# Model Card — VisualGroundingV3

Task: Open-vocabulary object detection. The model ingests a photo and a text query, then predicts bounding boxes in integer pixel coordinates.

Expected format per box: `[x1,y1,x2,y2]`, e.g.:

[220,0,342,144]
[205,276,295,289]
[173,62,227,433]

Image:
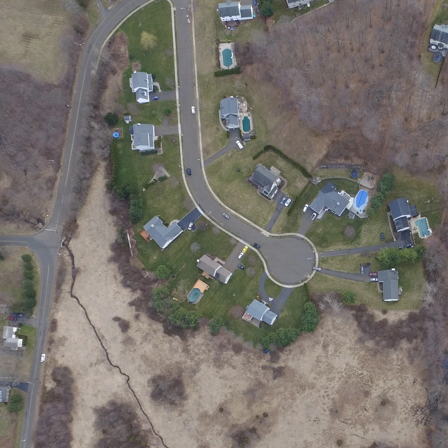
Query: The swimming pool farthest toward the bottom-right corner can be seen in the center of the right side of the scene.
[416,217,430,237]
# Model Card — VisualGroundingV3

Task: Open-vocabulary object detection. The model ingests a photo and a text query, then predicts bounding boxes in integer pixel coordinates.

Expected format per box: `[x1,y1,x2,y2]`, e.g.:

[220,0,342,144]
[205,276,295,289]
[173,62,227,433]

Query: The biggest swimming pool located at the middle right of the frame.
[353,189,369,214]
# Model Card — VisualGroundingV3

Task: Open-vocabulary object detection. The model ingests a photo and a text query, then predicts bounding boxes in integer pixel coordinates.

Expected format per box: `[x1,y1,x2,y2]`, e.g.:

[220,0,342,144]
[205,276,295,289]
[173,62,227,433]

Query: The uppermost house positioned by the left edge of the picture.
[2,327,21,350]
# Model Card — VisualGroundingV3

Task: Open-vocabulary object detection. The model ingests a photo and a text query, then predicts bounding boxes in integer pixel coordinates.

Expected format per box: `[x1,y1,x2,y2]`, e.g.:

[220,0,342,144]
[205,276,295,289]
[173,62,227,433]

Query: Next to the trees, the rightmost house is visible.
[429,24,448,57]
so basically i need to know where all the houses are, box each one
[219,95,240,127]
[129,70,155,101]
[250,164,281,199]
[196,254,233,283]
[2,327,21,350]
[218,0,253,28]
[141,215,184,249]
[0,386,13,402]
[243,298,276,325]
[310,182,354,216]
[378,268,398,299]
[129,122,157,151]
[429,24,448,57]
[389,198,418,231]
